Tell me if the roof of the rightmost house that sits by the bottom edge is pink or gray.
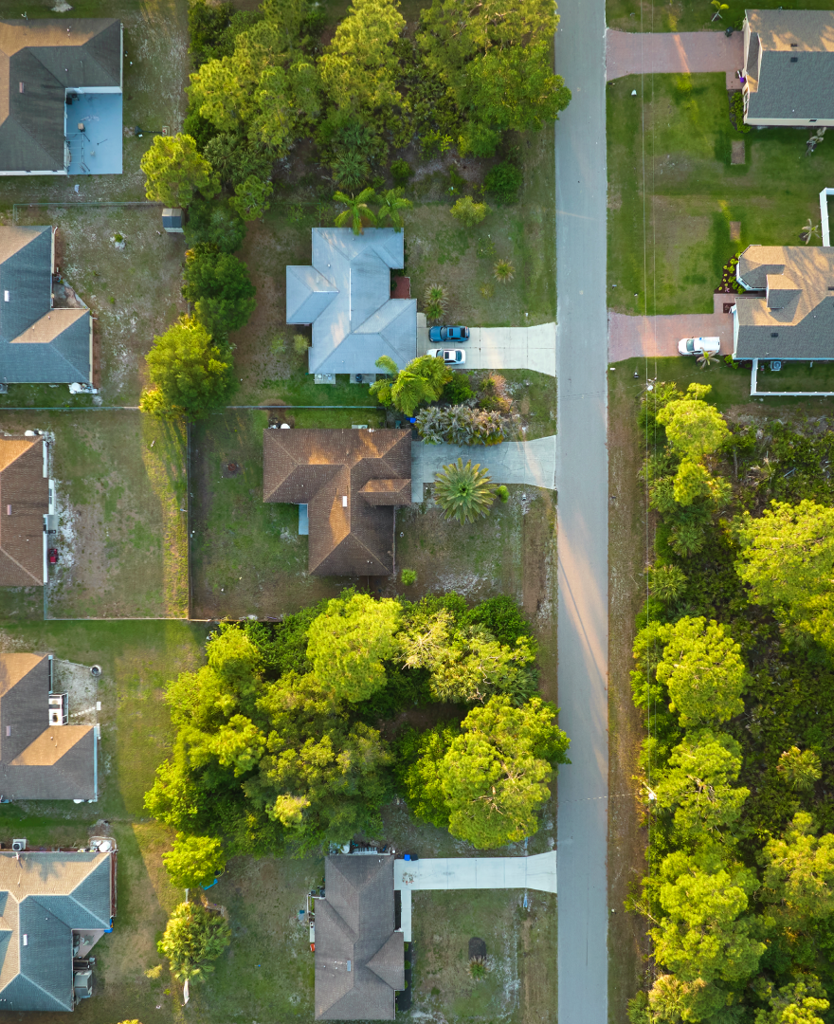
gray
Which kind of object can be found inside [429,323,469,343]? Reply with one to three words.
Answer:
car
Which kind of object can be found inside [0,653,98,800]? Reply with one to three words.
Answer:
house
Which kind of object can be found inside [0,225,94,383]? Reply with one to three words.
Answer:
house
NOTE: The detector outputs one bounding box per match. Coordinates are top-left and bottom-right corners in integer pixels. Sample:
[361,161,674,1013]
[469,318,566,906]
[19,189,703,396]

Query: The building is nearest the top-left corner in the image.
[0,18,124,175]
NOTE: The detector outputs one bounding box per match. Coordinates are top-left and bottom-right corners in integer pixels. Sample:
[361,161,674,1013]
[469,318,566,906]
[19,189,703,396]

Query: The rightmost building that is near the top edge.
[740,7,834,124]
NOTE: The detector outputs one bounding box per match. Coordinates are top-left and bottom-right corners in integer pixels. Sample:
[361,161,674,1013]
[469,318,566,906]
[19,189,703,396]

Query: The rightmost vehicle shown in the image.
[678,335,722,356]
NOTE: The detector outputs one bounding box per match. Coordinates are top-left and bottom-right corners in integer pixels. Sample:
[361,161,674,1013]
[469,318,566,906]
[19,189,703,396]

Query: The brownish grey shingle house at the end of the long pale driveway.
[314,851,405,1021]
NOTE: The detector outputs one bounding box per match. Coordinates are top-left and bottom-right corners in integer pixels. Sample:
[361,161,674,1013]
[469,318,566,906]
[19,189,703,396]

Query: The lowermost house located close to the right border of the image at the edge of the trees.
[729,244,834,358]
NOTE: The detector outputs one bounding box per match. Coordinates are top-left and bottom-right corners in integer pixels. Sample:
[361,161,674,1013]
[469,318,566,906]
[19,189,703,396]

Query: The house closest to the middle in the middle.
[262,427,412,576]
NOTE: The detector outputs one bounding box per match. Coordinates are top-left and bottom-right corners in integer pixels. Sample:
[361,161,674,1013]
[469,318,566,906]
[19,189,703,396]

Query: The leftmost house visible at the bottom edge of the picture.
[0,849,114,1012]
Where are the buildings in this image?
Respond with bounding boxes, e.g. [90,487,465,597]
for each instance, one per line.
[262,427,412,576]
[0,18,124,175]
[286,227,417,374]
[314,851,405,1021]
[0,225,94,383]
[157,206,181,229]
[0,653,98,800]
[0,849,114,1012]
[729,244,834,358]
[740,7,834,124]
[0,436,53,586]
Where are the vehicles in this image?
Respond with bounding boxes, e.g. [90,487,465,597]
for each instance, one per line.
[678,335,722,356]
[429,323,469,343]
[427,346,465,365]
